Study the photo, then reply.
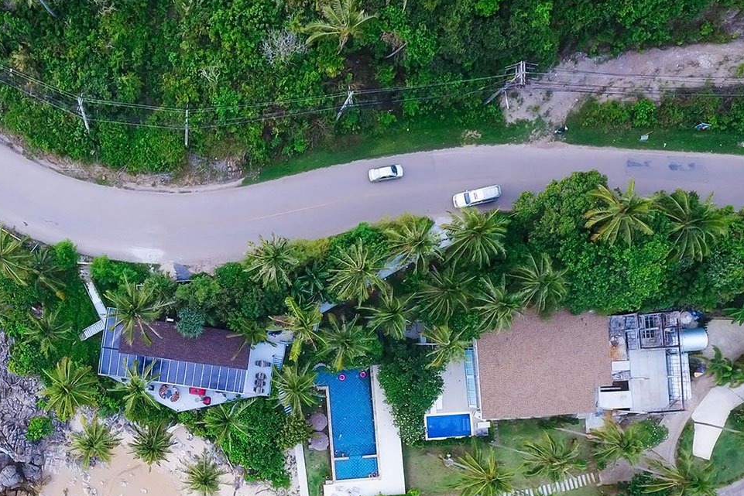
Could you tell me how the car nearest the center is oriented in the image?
horizontally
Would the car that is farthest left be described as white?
Yes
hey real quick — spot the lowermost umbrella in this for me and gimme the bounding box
[310,431,331,451]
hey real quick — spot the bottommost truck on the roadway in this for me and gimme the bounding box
[452,184,503,208]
